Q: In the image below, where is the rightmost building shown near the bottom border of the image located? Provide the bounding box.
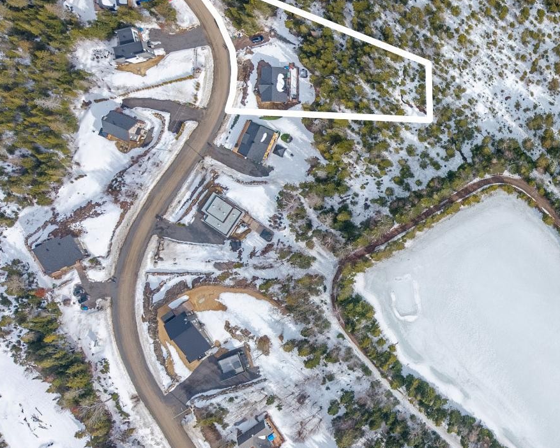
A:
[236,411,292,448]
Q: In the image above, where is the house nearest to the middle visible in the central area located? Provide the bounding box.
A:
[203,191,276,243]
